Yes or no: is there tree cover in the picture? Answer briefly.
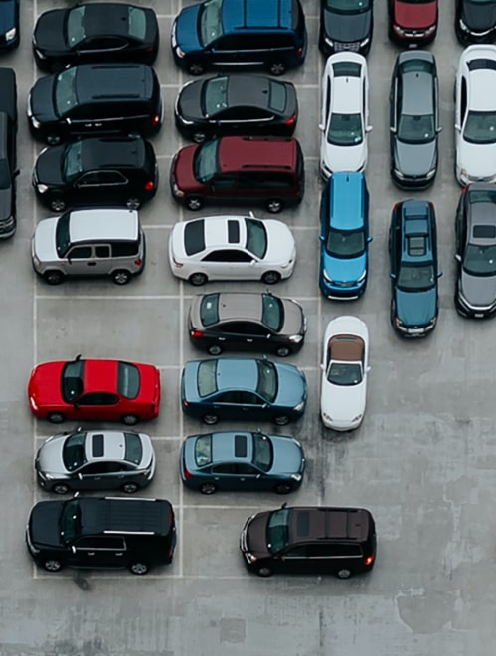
No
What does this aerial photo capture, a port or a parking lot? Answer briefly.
parking lot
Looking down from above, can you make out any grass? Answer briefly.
No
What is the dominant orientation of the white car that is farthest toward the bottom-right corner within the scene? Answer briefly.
up and down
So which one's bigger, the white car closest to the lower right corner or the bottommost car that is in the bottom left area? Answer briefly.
the bottommost car that is in the bottom left area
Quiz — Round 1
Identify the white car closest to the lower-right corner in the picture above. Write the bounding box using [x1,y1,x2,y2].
[318,315,373,432]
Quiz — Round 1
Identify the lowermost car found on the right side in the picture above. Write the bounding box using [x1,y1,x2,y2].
[239,505,375,579]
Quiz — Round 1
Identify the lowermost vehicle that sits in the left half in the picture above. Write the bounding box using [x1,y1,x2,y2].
[26,493,176,575]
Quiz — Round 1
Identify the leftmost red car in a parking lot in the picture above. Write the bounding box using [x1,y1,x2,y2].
[27,351,162,425]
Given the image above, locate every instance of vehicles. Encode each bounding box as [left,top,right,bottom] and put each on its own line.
[239,505,375,579]
[454,181,496,319]
[388,199,445,340]
[169,212,298,285]
[27,62,163,144]
[453,43,496,184]
[30,208,147,285]
[317,171,375,300]
[170,0,306,76]
[180,425,306,495]
[31,134,158,212]
[27,351,162,425]
[317,51,373,176]
[31,0,160,73]
[187,286,306,358]
[175,72,298,143]
[387,50,445,190]
[180,351,307,426]
[0,67,20,242]
[26,493,176,575]
[169,135,305,215]
[34,423,156,497]
[318,315,373,432]
[454,0,496,44]
[389,0,439,50]
[318,0,378,56]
